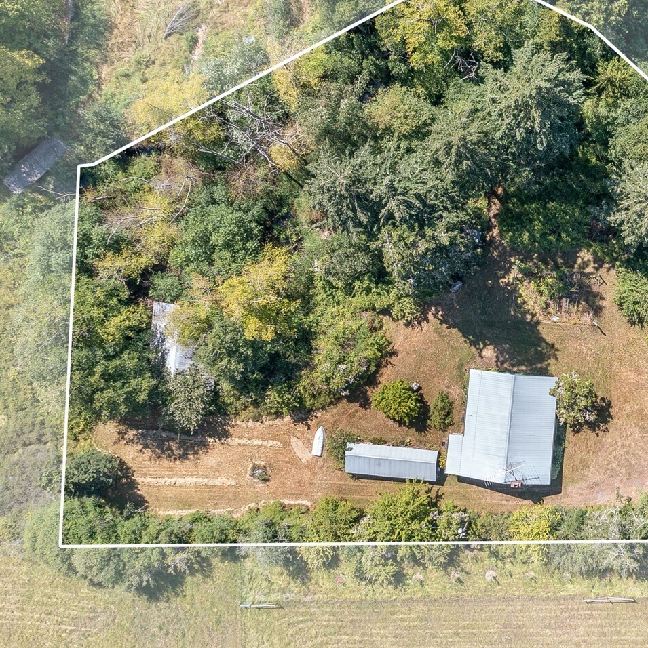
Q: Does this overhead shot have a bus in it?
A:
No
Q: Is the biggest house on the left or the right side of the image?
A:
right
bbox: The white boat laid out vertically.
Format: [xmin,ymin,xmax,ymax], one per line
[312,426,324,457]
